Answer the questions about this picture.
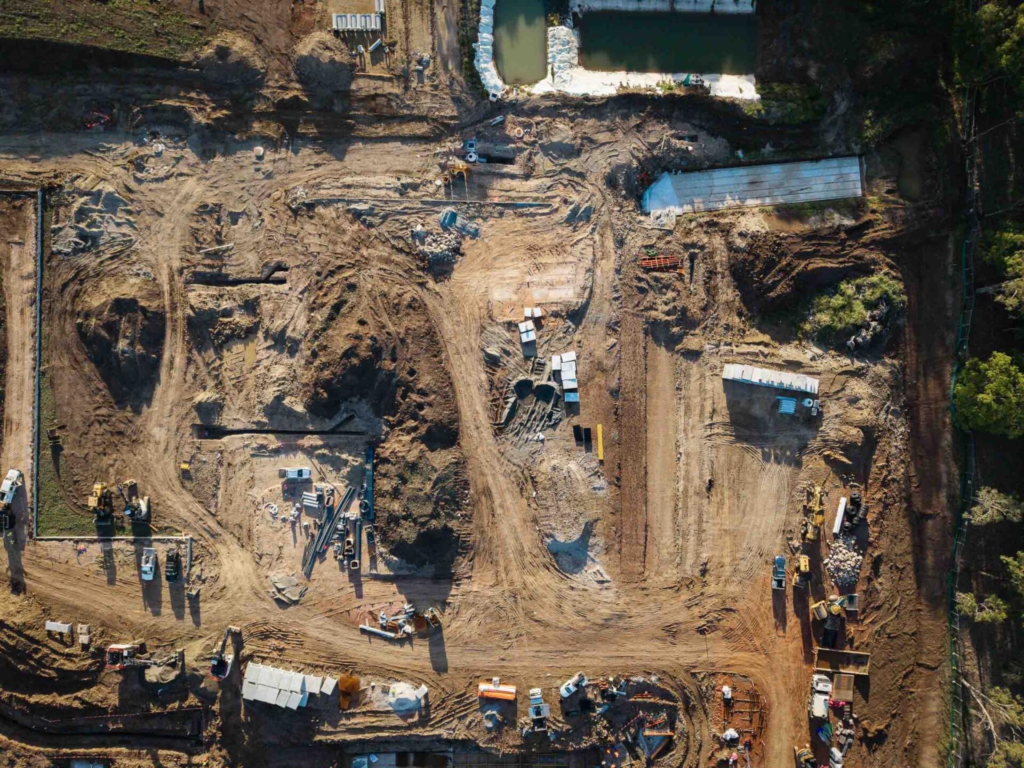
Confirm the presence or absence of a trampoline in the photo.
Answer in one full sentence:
No, this view has no trampoline in it.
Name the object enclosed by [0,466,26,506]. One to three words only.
truck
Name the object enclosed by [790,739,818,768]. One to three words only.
work vehicle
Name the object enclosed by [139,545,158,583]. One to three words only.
vehicle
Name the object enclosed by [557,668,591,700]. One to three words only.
truck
